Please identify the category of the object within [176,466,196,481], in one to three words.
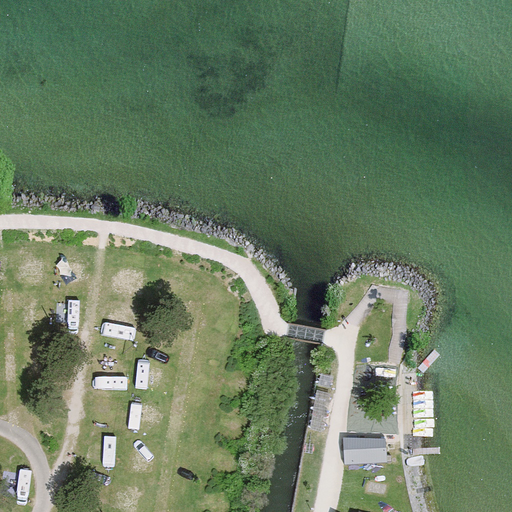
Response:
car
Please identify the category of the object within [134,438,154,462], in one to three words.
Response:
car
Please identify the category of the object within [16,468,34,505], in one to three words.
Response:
camper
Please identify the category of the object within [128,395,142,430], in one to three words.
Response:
vehicle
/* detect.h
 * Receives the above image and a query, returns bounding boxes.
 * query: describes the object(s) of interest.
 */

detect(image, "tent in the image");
[56,253,76,285]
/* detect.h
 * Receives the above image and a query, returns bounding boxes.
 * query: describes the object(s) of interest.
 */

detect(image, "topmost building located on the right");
[343,436,388,466]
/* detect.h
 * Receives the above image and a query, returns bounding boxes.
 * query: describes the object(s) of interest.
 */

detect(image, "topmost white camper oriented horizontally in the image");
[97,322,136,340]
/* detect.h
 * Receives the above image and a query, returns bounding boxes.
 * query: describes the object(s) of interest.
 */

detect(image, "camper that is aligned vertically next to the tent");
[67,299,81,334]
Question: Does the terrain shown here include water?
Yes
